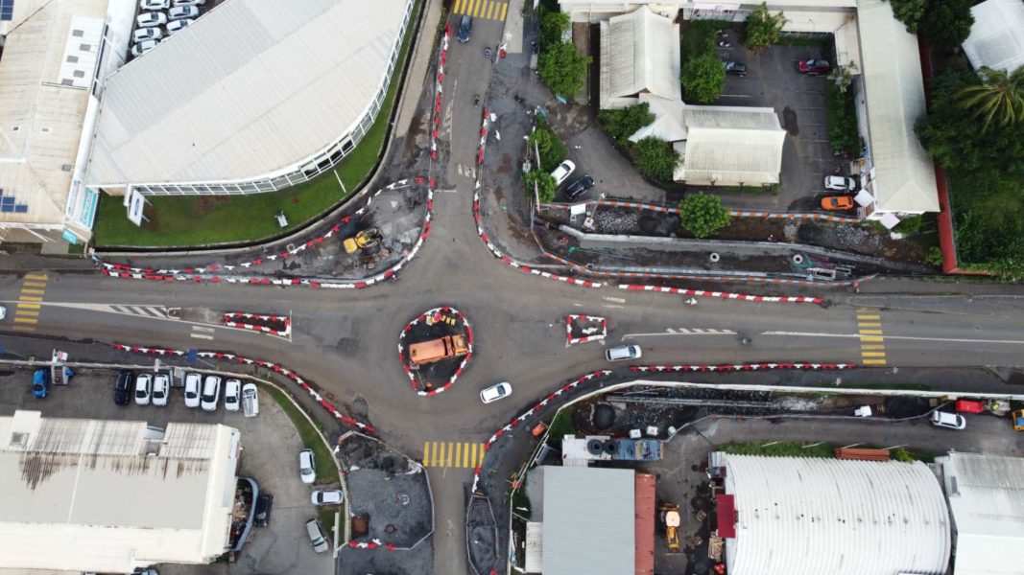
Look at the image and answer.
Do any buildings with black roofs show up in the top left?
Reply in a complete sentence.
No, the scene shows no building with a black roof in the top left.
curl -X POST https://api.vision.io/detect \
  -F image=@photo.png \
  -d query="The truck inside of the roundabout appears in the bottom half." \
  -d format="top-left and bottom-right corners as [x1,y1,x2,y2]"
[407,331,468,369]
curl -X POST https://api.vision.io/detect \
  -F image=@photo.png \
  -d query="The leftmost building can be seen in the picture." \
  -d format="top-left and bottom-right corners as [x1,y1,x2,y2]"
[0,0,109,242]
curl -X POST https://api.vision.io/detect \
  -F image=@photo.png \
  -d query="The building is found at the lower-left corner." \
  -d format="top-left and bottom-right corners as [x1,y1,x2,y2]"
[0,411,242,573]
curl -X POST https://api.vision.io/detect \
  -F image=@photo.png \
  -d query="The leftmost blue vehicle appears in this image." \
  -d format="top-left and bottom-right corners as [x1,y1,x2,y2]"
[30,369,49,400]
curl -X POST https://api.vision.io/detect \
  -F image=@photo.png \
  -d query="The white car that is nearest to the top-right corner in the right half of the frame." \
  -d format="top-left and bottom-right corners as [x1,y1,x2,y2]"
[824,175,856,191]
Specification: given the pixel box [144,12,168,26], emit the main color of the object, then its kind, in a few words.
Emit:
white car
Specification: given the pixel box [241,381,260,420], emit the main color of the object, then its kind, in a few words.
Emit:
white vehicle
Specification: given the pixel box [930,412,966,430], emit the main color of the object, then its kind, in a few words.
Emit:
white car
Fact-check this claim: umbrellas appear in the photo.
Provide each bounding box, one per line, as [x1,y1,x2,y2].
[878,212,900,231]
[853,188,872,208]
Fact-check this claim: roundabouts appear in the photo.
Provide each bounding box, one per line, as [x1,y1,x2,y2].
[400,308,470,394]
